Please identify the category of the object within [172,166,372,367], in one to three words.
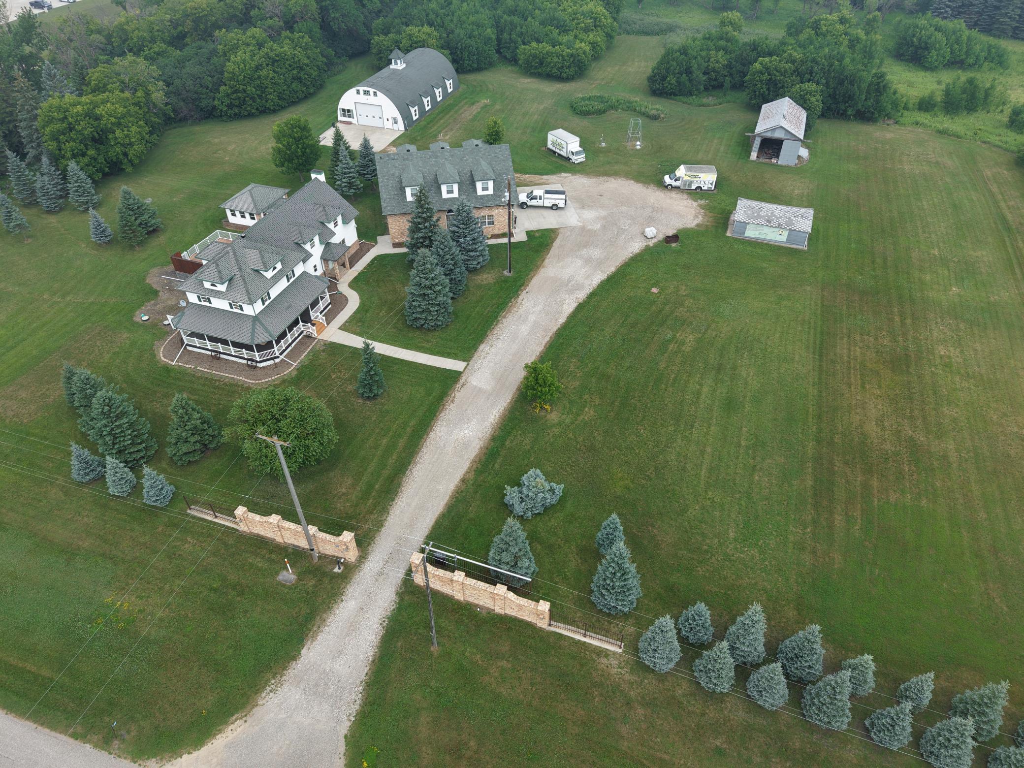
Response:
house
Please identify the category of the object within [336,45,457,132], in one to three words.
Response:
barn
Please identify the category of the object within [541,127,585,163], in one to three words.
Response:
truck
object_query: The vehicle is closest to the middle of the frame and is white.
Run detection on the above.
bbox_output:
[516,190,567,210]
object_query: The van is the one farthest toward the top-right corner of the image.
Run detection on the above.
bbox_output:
[662,162,715,191]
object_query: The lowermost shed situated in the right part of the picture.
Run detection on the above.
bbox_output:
[727,196,815,249]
